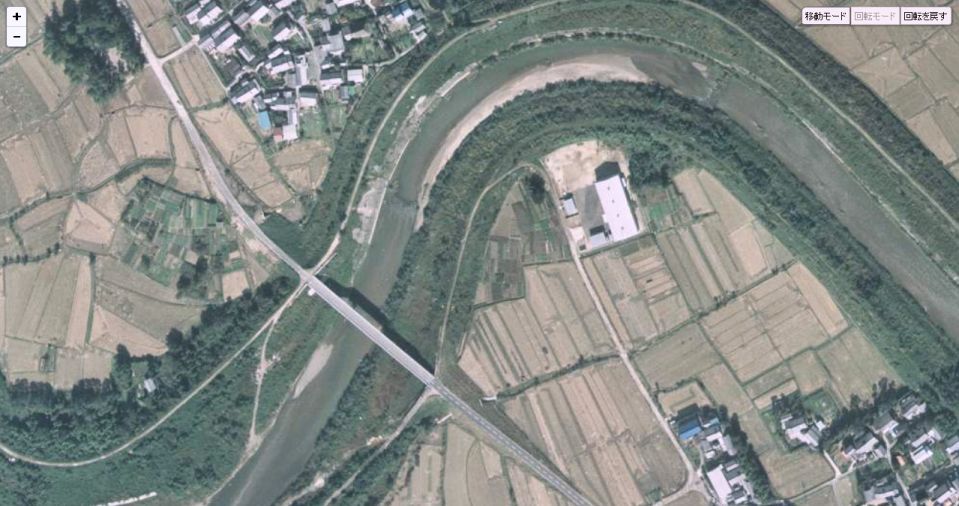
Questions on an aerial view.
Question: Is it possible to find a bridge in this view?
Yes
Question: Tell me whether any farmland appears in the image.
Yes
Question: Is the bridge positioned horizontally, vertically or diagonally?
diagonally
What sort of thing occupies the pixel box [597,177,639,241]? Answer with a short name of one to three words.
building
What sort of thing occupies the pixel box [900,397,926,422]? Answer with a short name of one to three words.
house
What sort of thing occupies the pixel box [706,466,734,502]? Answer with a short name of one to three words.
barn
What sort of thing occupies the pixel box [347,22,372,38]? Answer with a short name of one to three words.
house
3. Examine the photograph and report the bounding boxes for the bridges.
[304,273,437,387]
